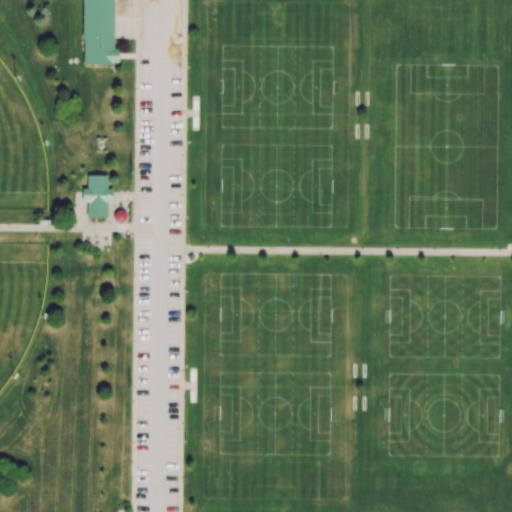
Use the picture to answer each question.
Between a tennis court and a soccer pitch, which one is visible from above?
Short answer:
soccer pitch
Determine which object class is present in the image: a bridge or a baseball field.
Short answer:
baseball field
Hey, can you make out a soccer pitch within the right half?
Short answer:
Yes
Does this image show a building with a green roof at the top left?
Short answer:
Yes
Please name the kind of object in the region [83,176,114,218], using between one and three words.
building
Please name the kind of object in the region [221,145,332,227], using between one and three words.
soccer field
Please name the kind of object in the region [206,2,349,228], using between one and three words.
soccer field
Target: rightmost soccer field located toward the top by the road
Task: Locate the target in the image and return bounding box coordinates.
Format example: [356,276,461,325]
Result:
[395,65,499,230]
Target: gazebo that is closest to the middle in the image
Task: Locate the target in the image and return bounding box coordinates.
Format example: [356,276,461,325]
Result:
[114,210,128,222]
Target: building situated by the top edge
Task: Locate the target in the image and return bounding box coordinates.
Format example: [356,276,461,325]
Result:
[84,0,120,65]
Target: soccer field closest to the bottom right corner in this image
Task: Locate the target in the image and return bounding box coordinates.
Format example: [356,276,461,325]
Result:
[389,374,500,457]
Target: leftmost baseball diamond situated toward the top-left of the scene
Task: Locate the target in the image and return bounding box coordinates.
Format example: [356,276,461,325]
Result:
[0,58,48,209]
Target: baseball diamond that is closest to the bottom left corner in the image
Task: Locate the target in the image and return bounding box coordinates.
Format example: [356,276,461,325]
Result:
[0,244,48,390]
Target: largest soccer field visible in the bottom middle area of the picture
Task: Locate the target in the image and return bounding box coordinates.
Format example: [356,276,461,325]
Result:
[204,274,348,500]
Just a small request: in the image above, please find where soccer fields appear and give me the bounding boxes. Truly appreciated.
[220,274,332,356]
[222,46,333,128]
[204,274,348,500]
[221,145,332,227]
[395,65,499,230]
[389,374,500,457]
[220,373,331,455]
[206,2,349,228]
[390,276,502,358]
